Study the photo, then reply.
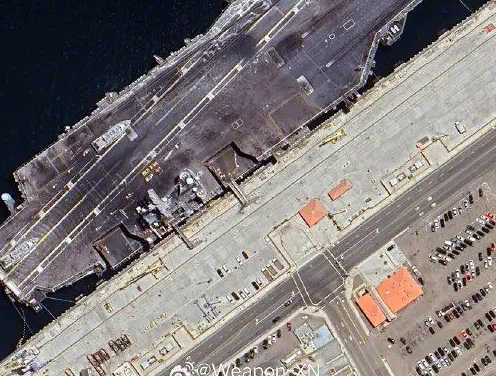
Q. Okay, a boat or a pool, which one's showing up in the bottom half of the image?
boat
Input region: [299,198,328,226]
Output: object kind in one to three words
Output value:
house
